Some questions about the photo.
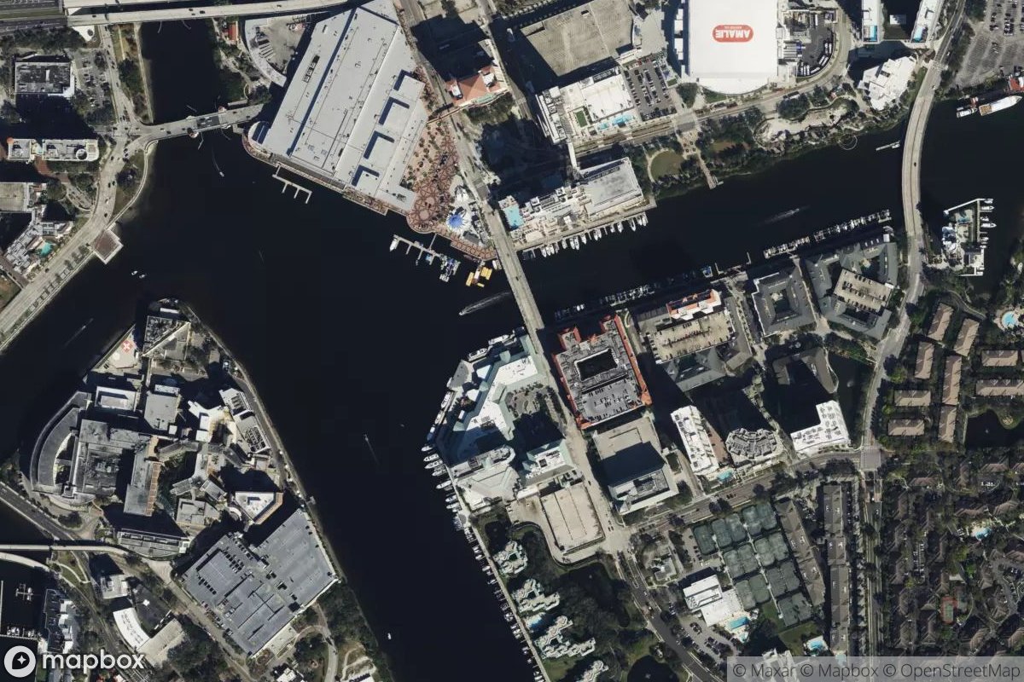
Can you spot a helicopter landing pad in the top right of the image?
No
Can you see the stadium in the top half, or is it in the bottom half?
top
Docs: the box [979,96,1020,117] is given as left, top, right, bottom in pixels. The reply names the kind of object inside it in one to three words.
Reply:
ship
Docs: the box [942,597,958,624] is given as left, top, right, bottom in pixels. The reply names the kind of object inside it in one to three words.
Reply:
tennis court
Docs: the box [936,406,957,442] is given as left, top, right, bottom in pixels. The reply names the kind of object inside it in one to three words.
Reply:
building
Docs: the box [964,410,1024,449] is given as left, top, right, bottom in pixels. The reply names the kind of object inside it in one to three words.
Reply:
pond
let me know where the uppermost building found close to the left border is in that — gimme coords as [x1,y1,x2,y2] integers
[15,62,75,98]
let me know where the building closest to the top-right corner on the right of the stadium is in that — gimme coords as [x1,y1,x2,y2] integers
[910,0,949,47]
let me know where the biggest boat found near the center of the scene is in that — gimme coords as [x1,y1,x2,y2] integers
[458,294,511,315]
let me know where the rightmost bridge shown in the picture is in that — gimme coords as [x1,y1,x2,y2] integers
[901,99,930,236]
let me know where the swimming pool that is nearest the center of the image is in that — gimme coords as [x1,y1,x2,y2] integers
[504,205,523,229]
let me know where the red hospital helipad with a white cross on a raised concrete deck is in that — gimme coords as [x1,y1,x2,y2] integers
[105,329,141,369]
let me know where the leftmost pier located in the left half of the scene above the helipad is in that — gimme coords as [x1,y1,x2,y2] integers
[92,229,123,264]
